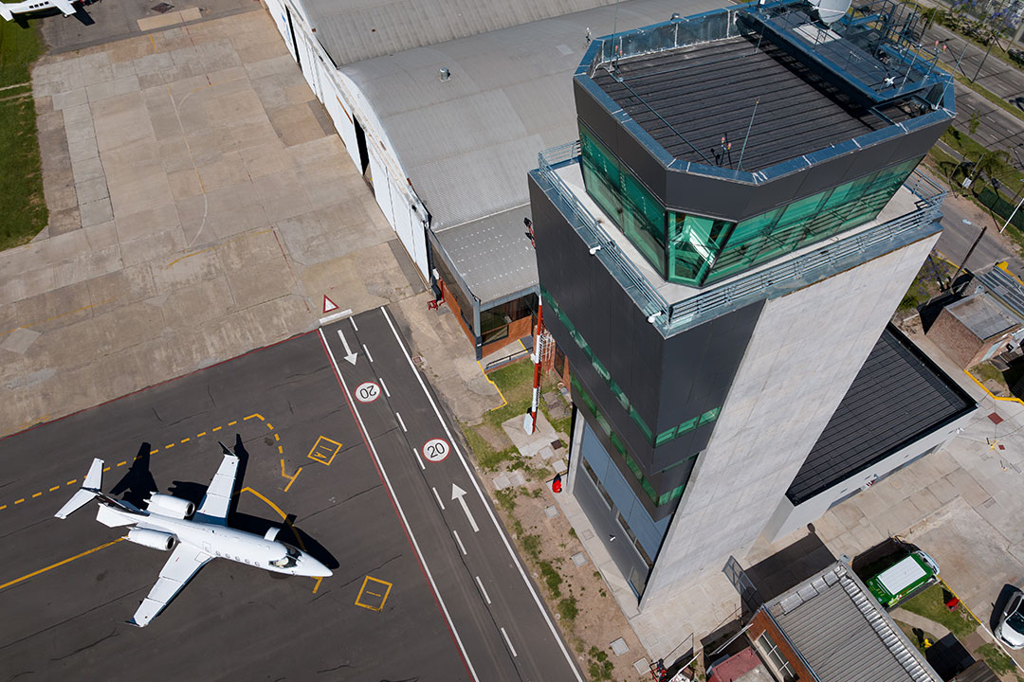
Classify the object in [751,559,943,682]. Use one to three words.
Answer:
building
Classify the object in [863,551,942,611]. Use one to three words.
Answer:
van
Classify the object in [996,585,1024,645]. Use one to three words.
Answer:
car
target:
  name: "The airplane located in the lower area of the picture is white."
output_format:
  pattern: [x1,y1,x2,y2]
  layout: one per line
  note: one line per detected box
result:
[57,444,333,626]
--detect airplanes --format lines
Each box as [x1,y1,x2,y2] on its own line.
[57,444,333,626]
[0,0,105,22]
